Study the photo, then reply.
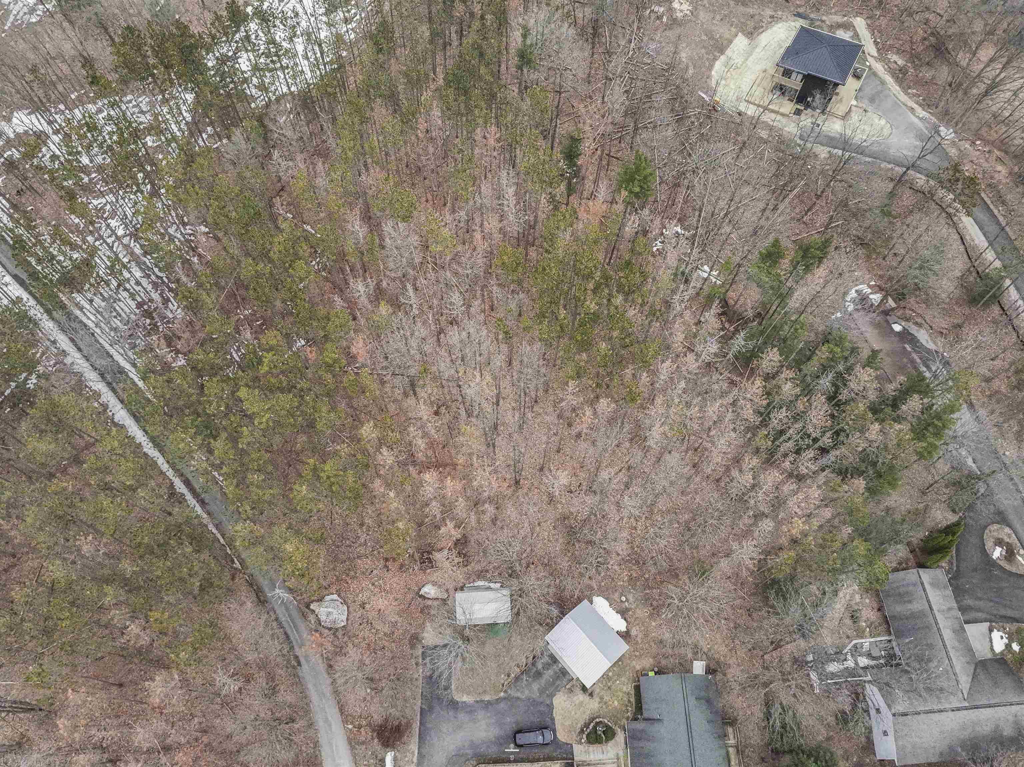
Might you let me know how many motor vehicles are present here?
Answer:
one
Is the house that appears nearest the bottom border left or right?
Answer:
right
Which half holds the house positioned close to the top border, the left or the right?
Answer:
right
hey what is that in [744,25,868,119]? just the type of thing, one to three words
house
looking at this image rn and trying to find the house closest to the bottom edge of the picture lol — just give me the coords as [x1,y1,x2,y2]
[625,674,727,767]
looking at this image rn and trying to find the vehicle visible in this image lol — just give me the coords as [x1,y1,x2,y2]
[512,726,554,748]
